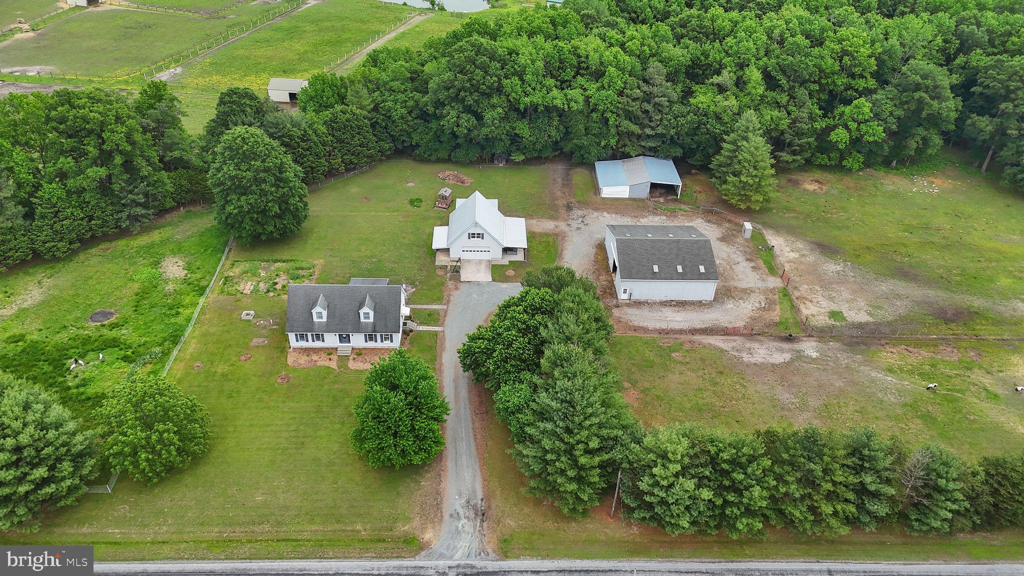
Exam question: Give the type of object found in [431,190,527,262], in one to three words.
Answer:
building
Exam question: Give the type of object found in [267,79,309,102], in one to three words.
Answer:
shed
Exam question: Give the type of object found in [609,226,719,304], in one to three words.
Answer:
barn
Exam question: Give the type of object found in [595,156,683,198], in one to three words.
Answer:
shed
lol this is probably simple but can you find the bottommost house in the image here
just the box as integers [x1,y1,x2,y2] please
[284,278,411,360]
